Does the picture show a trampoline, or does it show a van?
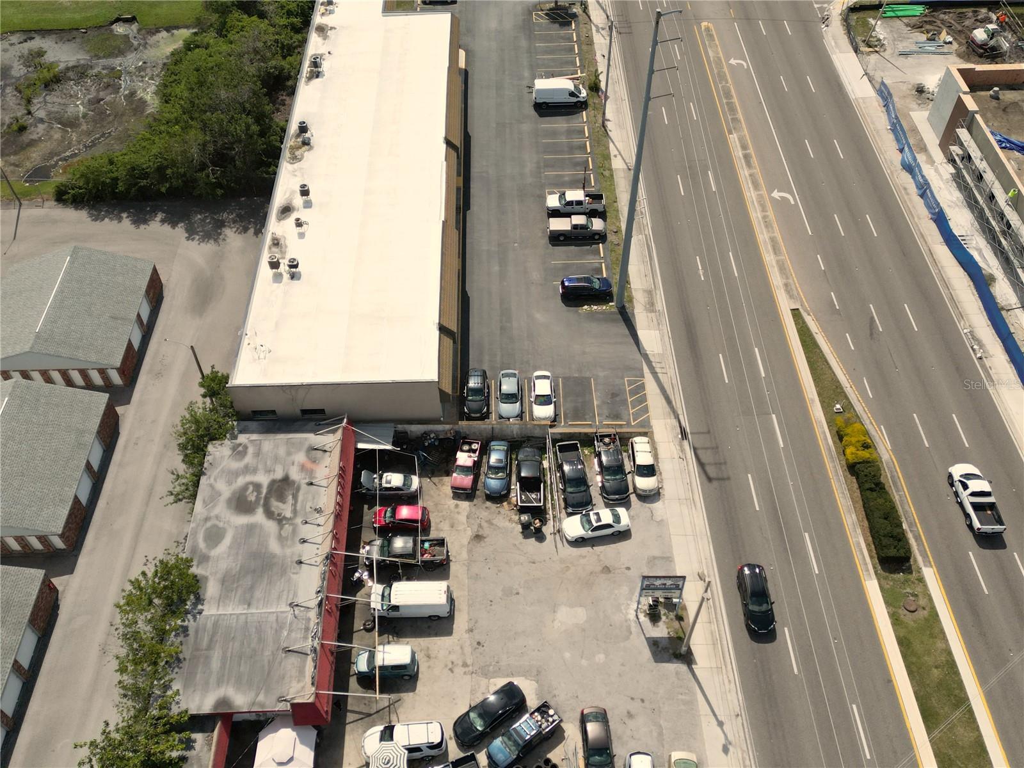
van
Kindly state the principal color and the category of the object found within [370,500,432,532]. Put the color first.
red car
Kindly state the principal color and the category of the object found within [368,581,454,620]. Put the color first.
white van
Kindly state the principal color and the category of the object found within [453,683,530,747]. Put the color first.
black car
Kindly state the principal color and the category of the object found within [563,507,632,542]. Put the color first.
white car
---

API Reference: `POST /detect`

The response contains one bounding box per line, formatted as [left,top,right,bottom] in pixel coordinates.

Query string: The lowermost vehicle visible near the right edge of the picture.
[951,465,1008,538]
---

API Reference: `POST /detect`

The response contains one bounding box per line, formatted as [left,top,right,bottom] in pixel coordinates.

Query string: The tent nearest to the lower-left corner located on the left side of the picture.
[256,726,326,768]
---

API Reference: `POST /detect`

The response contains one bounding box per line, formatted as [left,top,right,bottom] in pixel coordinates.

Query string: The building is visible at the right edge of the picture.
[914,63,1024,274]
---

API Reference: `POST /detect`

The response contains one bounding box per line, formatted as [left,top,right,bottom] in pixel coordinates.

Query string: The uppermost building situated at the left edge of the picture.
[0,253,160,389]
